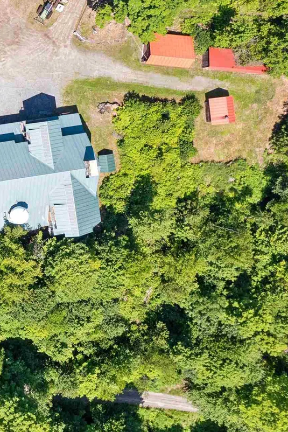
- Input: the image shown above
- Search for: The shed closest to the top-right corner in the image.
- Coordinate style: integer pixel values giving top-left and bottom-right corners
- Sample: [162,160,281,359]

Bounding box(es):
[194,48,267,75]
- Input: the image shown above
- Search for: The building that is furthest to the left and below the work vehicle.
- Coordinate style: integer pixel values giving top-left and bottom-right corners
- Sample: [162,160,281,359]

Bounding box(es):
[0,113,101,237]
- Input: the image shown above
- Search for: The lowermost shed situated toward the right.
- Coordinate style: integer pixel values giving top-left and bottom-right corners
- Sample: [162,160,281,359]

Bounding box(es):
[200,96,235,124]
